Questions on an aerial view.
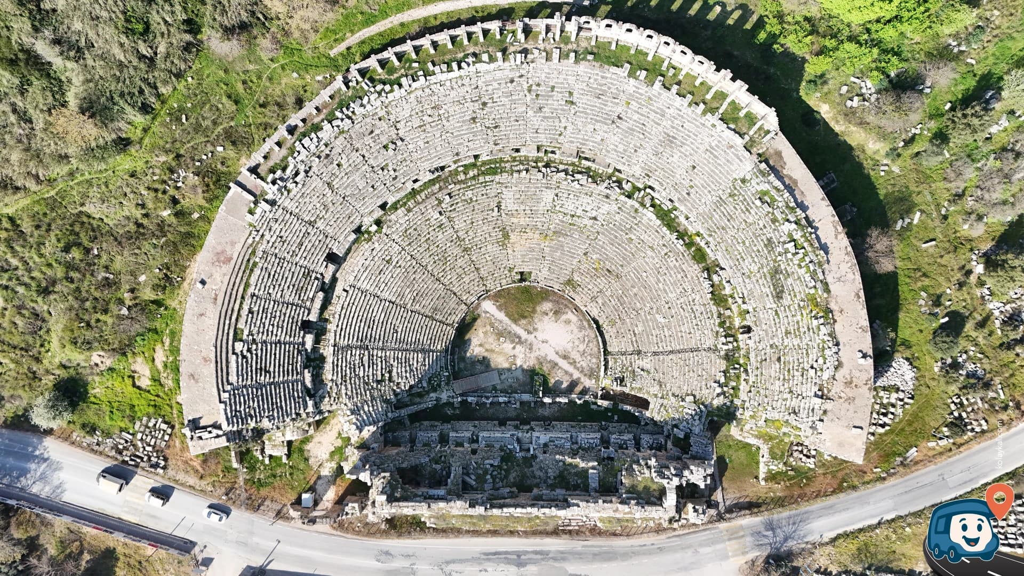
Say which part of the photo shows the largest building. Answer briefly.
bottom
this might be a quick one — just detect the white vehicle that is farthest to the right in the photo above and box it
[203,504,229,519]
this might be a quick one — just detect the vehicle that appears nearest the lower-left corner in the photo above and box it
[96,471,130,494]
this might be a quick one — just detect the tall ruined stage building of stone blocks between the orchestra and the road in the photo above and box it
[341,418,712,531]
